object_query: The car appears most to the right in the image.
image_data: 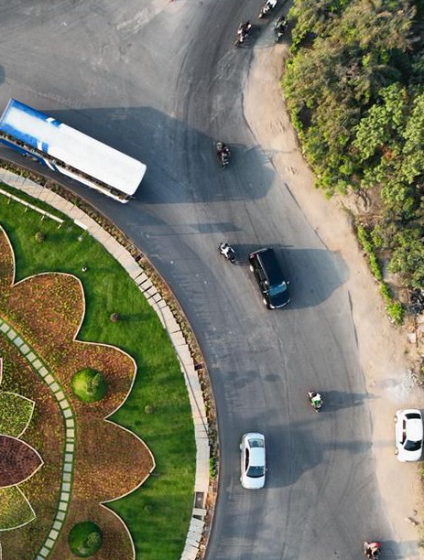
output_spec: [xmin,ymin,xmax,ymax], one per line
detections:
[391,408,424,461]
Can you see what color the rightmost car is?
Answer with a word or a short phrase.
white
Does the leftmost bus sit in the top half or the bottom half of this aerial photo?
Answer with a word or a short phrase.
top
